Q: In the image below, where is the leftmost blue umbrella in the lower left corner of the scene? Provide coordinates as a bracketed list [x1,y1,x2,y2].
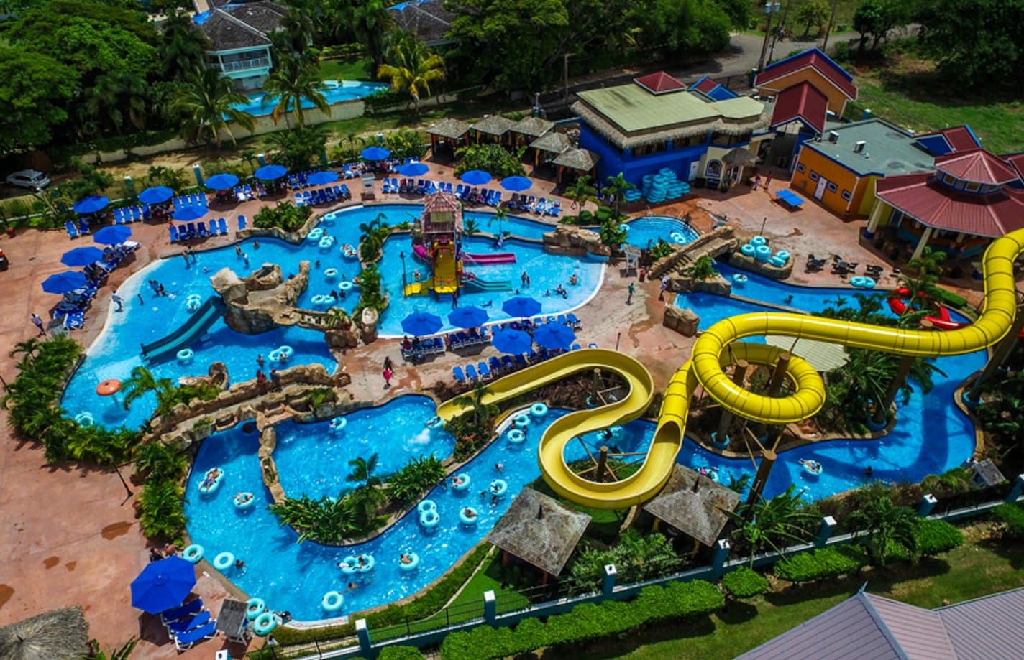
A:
[127,563,197,622]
